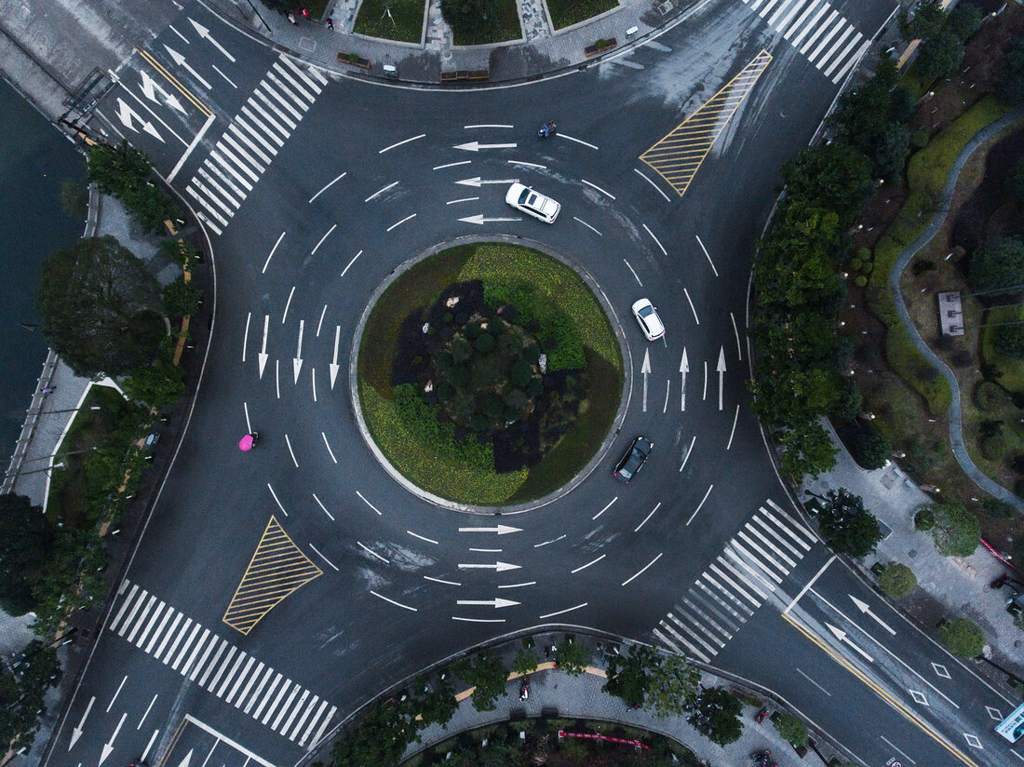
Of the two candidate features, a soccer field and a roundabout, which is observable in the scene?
roundabout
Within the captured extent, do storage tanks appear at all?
No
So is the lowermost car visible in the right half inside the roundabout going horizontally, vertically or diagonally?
diagonally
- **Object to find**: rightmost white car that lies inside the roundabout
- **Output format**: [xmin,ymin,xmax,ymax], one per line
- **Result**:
[633,296,666,343]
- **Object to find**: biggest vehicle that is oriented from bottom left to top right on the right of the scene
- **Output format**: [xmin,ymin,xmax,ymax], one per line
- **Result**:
[613,435,654,485]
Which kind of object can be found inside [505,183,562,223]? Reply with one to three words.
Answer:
car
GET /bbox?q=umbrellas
[239,433,254,452]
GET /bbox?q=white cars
[633,296,666,343]
[505,183,562,223]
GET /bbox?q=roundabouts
[232,116,751,631]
